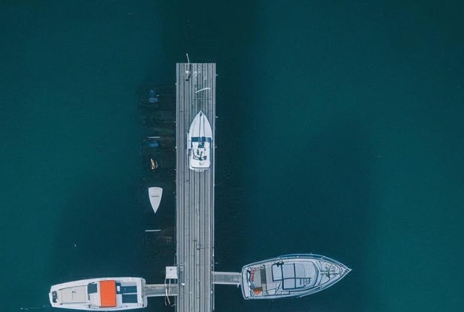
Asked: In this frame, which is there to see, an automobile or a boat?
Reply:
boat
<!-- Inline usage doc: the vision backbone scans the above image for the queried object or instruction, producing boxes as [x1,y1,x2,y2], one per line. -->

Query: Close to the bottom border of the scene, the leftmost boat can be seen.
[49,275,164,312]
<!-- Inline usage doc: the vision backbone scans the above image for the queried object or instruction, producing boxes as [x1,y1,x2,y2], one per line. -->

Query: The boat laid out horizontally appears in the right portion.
[223,254,353,302]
